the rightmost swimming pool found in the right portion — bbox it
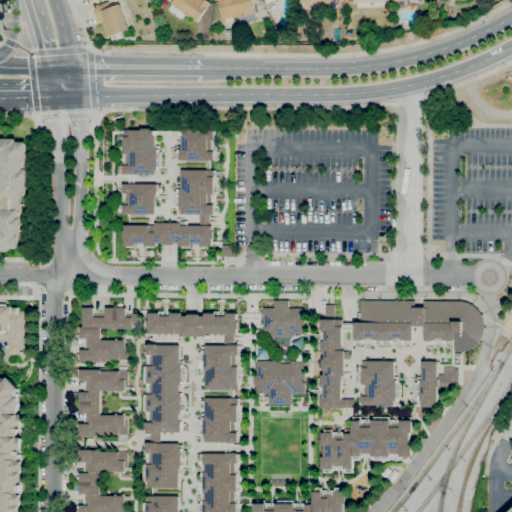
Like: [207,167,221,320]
[398,9,418,22]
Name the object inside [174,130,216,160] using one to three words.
building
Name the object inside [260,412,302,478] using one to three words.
sports field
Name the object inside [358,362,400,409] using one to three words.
building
